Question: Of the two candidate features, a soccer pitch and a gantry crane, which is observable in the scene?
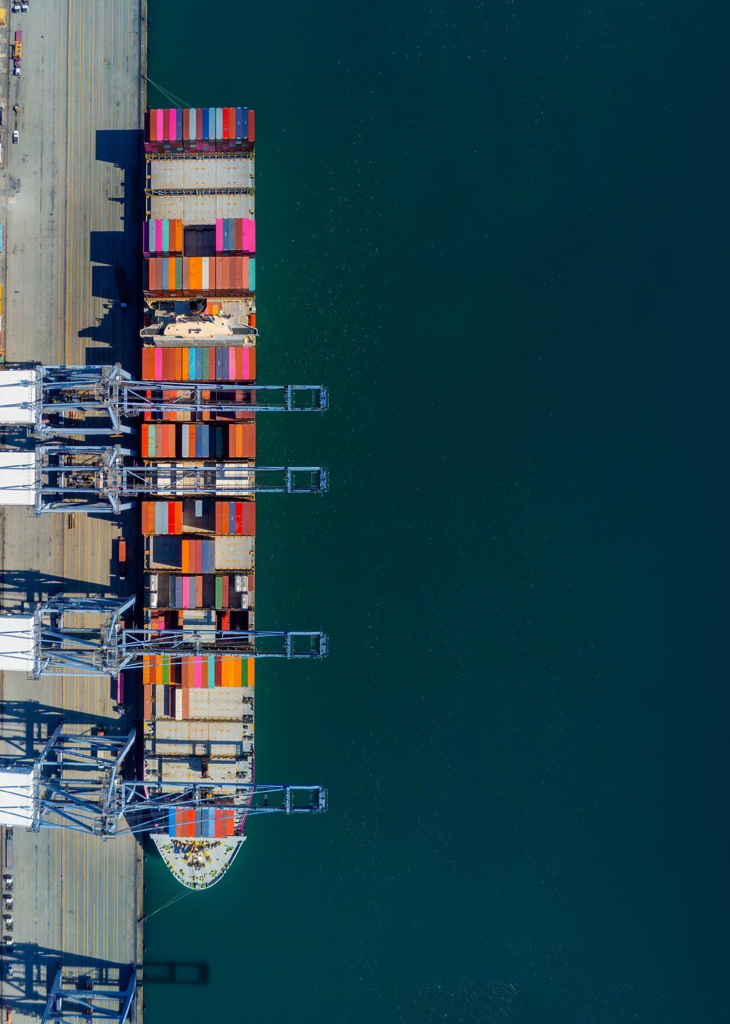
gantry crane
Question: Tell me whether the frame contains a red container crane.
No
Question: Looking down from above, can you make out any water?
Yes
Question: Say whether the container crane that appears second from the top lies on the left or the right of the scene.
left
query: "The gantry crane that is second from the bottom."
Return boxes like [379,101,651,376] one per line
[0,717,329,845]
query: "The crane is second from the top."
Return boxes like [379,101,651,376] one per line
[0,443,326,521]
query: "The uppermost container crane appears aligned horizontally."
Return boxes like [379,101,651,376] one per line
[0,364,328,445]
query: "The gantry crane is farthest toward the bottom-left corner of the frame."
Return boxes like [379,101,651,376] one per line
[35,955,136,1024]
